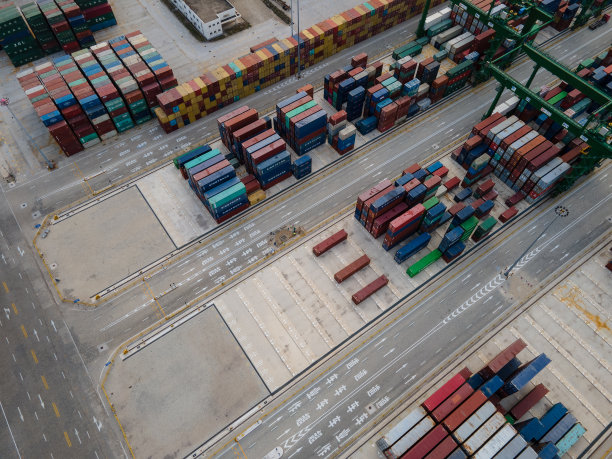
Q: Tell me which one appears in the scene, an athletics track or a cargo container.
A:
cargo container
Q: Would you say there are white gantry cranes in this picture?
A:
No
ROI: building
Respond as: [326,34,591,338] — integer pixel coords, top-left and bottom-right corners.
[170,0,243,39]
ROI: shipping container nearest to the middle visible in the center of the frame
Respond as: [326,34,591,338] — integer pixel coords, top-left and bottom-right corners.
[313,229,348,258]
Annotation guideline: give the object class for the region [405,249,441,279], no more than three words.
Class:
shipping container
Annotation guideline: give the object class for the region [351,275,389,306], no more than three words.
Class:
shipping container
